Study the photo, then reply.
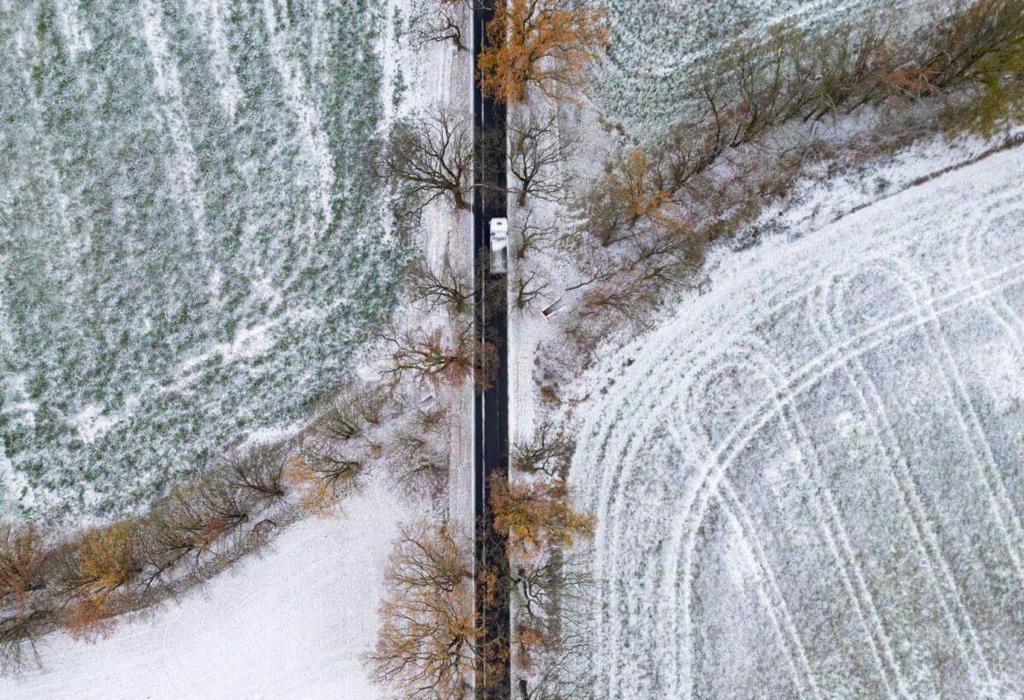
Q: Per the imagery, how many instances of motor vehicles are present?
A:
1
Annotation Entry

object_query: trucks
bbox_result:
[488,217,510,275]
